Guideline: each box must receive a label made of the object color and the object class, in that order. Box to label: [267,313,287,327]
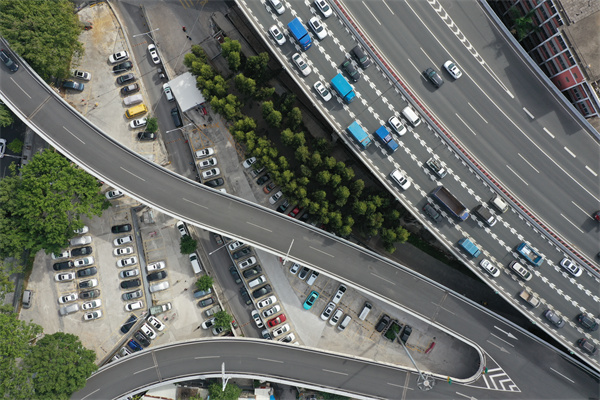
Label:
red vehicle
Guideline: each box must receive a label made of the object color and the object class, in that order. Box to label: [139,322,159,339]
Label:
white car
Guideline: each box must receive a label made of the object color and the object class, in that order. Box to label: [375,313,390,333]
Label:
black car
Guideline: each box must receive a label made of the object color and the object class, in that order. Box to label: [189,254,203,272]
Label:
white vehicle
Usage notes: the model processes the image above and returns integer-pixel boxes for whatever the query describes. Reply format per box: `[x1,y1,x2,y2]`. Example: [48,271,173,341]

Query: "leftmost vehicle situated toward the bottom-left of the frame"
[22,289,35,308]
